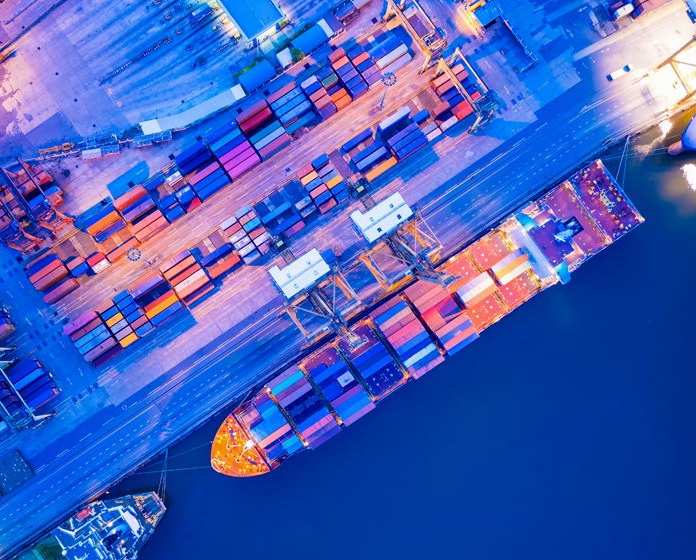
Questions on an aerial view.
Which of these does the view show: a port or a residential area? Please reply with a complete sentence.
What you see here is a port.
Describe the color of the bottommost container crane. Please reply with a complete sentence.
From above, the bottommost container crane appears blue.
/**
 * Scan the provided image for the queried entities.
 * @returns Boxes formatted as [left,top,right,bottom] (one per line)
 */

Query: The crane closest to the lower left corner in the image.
[0,356,57,443]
